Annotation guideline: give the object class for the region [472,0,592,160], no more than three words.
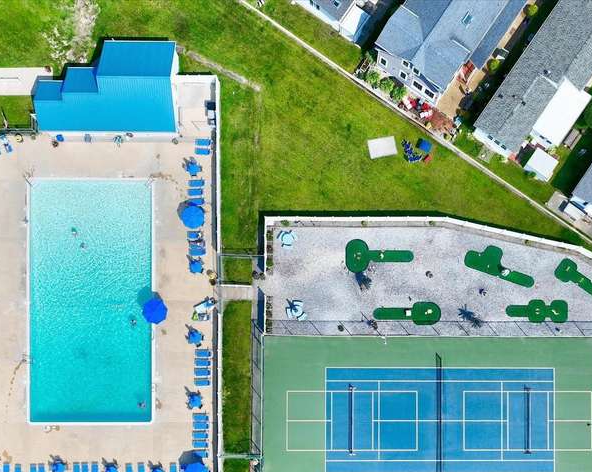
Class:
house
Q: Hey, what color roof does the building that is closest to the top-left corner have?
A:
blue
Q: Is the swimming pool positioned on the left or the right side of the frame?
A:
left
